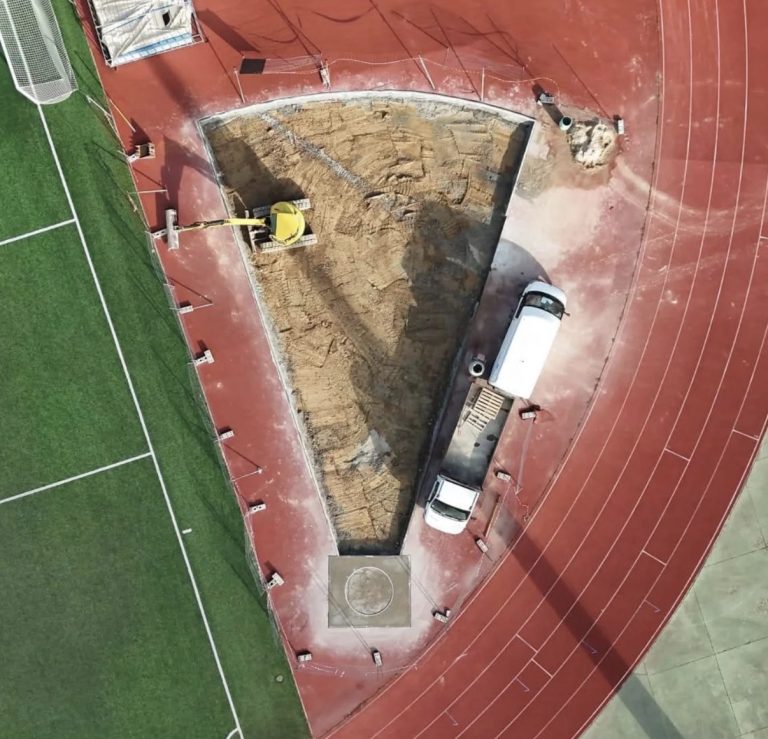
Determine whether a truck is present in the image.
Yes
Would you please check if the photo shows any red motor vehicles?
No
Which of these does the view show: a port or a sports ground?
sports ground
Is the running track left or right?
right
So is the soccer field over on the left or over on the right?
left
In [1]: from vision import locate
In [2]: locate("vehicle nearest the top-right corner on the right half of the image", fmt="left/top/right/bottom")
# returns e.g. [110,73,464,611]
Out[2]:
[484,284,566,403]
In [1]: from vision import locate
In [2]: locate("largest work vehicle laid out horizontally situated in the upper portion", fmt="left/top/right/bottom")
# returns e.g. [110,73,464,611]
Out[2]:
[166,197,317,253]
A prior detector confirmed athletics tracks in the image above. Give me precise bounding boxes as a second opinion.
[315,0,768,739]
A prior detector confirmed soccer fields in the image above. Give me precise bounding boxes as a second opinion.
[0,0,315,739]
